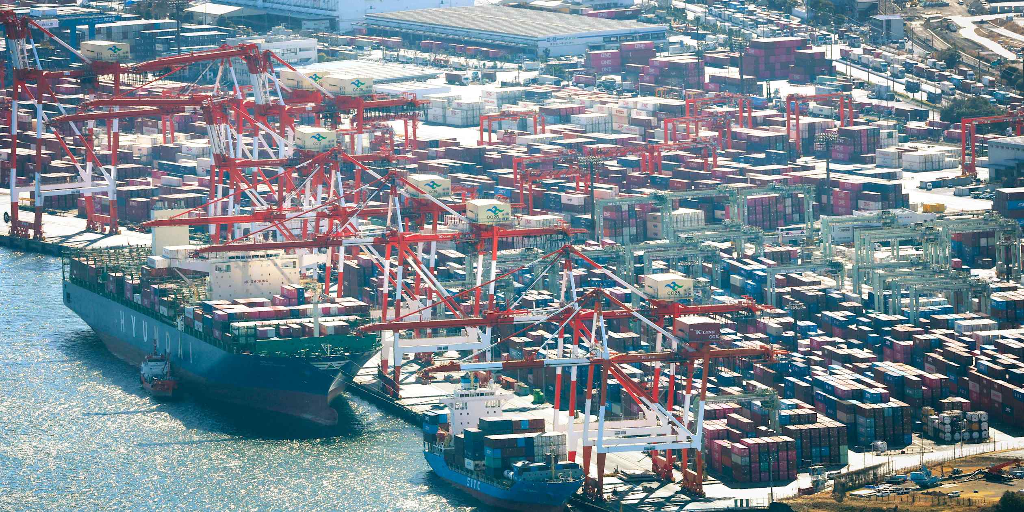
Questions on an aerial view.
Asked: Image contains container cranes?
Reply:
Yes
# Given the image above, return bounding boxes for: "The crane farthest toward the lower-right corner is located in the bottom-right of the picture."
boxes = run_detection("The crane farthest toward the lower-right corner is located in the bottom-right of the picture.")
[966,457,1013,481]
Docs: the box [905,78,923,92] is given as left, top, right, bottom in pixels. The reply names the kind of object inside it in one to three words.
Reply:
vehicle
